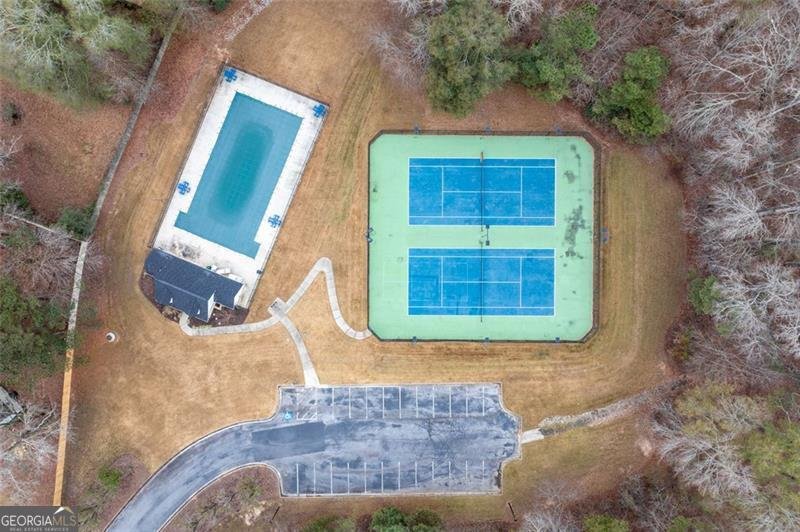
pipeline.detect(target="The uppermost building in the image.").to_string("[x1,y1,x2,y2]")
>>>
[145,249,245,322]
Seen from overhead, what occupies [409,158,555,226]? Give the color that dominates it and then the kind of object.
blue tennis court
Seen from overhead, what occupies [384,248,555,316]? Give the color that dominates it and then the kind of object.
blue tennis court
